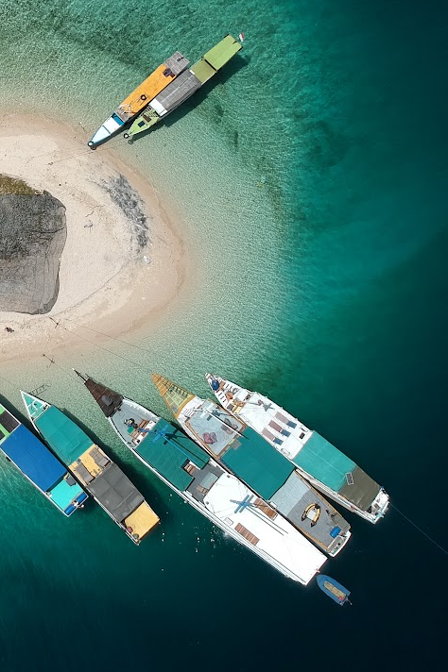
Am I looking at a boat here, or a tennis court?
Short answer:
boat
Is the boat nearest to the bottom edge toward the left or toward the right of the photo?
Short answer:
right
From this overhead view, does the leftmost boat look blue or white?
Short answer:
blue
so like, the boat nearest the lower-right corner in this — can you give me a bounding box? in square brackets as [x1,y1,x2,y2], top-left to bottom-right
[314,573,352,605]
